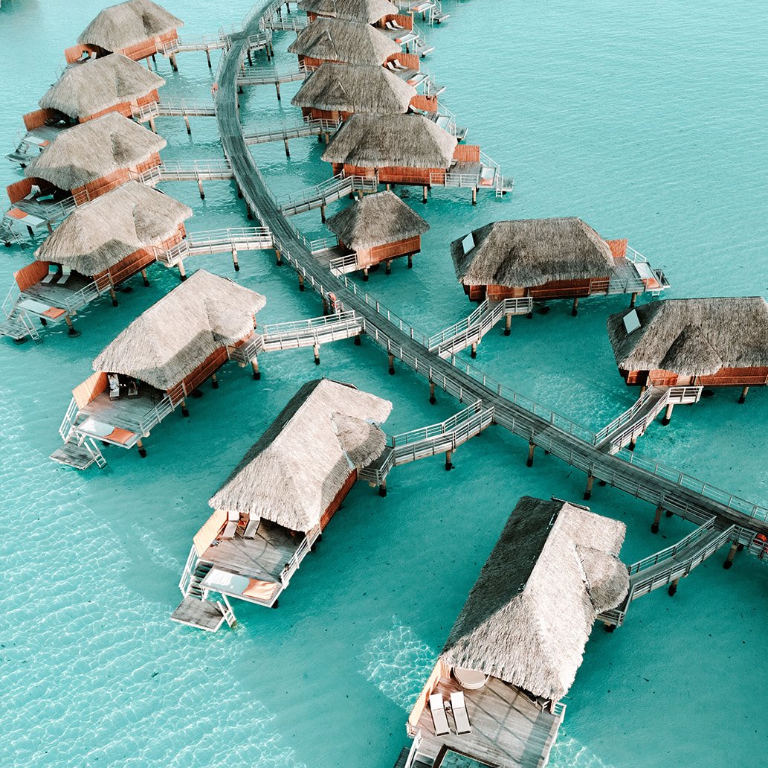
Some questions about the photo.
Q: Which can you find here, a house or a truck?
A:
house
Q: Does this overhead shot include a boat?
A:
No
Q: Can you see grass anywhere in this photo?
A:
No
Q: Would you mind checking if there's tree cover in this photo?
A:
No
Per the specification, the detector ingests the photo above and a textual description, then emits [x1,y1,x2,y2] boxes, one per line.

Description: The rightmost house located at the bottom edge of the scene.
[392,497,636,768]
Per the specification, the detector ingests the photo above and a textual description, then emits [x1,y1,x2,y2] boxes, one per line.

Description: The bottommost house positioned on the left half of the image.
[170,379,396,634]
